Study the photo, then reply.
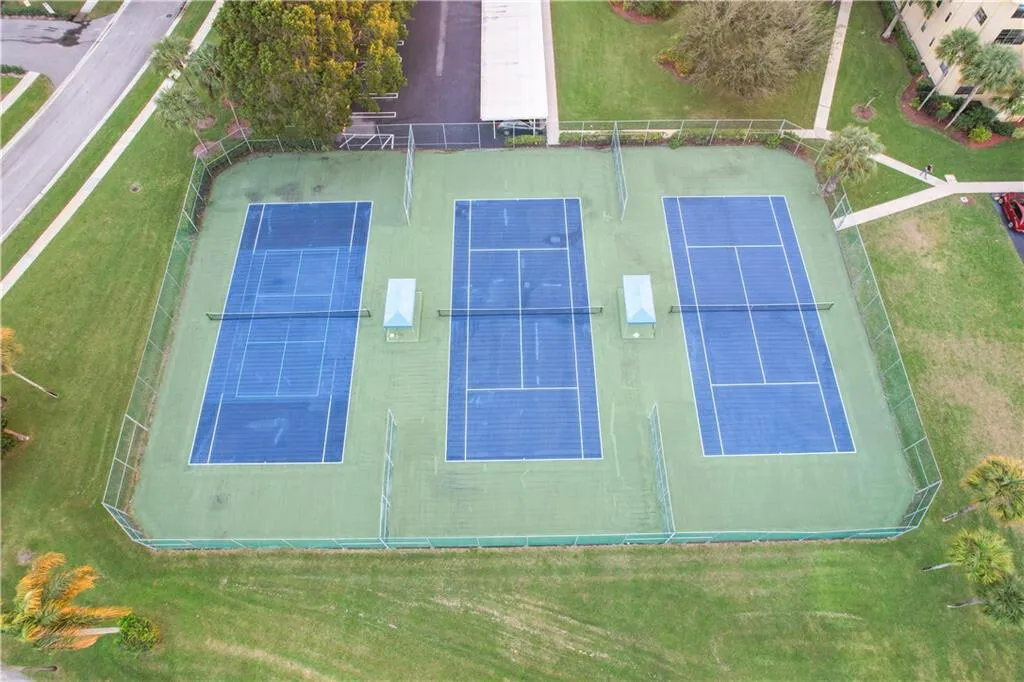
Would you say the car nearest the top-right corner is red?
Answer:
Yes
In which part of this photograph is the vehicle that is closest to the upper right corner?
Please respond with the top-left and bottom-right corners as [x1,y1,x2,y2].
[999,190,1024,231]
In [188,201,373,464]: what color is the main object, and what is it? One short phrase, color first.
blue tennis court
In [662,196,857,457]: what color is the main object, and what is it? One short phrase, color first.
blue tennis court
